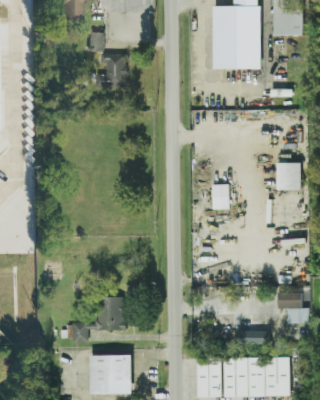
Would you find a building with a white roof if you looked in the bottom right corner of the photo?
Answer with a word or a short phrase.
Yes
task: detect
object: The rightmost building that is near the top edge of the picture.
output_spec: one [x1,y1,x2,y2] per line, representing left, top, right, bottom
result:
[274,0,304,37]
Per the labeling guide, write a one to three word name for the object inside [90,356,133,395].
building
